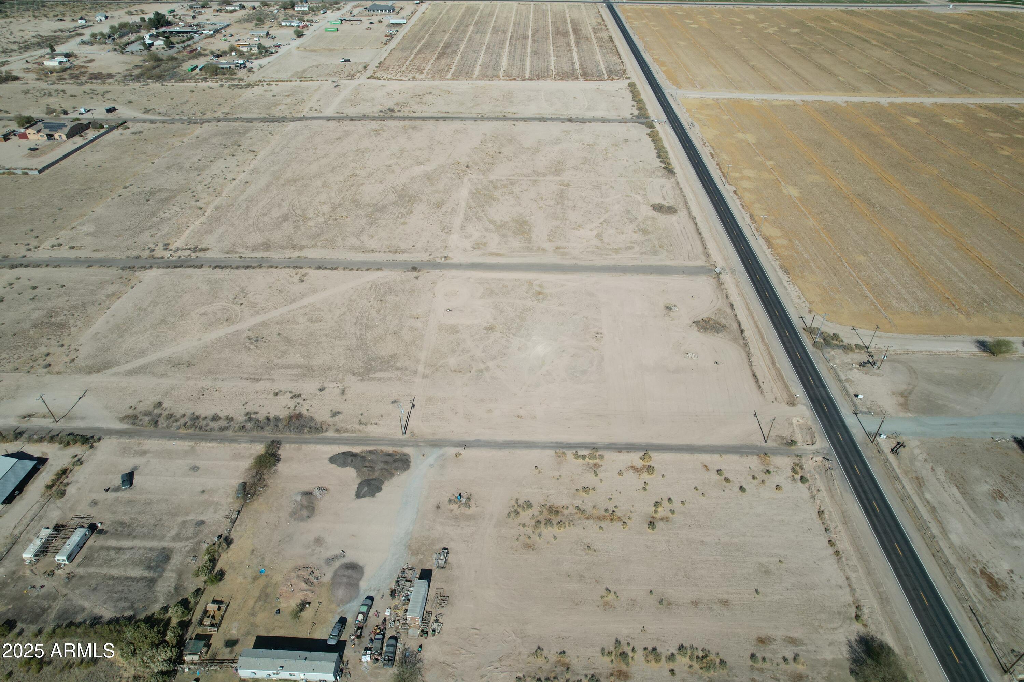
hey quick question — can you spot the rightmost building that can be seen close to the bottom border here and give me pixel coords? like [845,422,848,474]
[235,646,342,682]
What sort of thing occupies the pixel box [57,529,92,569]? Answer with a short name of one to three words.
trailer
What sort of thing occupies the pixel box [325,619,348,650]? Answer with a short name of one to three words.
car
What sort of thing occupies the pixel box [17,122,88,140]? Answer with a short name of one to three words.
house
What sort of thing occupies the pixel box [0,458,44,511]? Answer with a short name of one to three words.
barn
